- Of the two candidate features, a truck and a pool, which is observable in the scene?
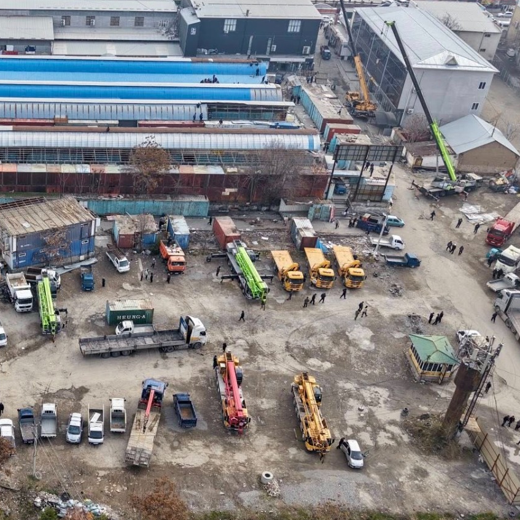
truck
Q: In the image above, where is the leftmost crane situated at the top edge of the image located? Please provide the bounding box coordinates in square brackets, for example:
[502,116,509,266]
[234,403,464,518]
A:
[328,0,392,115]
